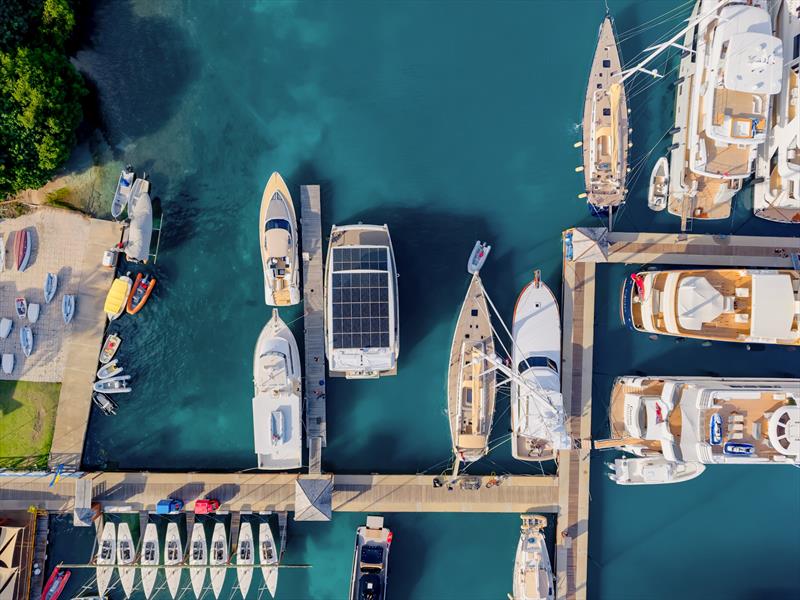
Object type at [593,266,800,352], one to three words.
boat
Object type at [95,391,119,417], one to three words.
boat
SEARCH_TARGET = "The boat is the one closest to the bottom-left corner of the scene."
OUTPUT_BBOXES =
[46,566,70,600]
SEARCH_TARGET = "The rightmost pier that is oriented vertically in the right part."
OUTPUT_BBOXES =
[555,263,595,600]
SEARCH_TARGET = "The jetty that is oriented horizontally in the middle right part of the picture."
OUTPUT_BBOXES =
[562,232,800,269]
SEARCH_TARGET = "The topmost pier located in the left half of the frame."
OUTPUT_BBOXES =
[302,185,327,446]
